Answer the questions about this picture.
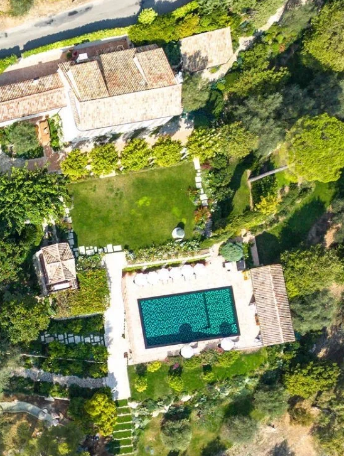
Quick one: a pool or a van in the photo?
pool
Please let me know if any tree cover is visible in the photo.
Yes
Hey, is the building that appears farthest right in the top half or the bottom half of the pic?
bottom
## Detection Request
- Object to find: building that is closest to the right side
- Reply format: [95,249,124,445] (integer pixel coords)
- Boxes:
[243,264,296,345]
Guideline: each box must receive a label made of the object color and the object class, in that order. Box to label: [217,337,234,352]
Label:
white umbrella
